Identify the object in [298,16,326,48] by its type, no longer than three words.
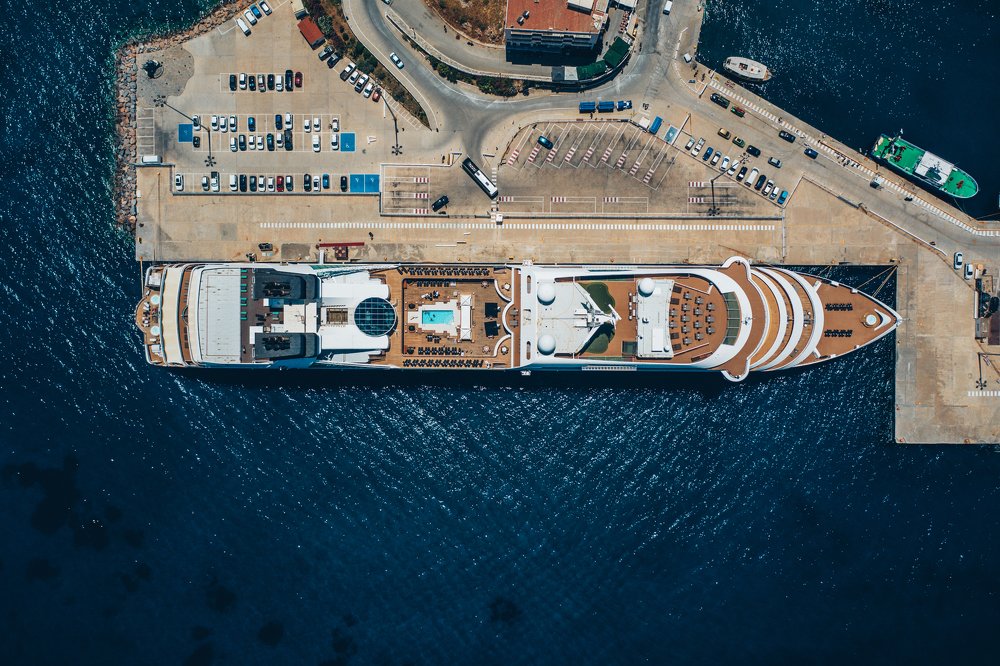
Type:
shed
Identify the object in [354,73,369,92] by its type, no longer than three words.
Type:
vehicle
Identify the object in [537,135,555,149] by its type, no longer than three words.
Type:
car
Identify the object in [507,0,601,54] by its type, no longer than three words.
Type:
building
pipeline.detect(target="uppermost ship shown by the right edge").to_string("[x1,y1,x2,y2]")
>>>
[869,130,979,198]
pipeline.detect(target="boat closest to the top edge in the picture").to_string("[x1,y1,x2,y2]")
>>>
[724,56,774,81]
